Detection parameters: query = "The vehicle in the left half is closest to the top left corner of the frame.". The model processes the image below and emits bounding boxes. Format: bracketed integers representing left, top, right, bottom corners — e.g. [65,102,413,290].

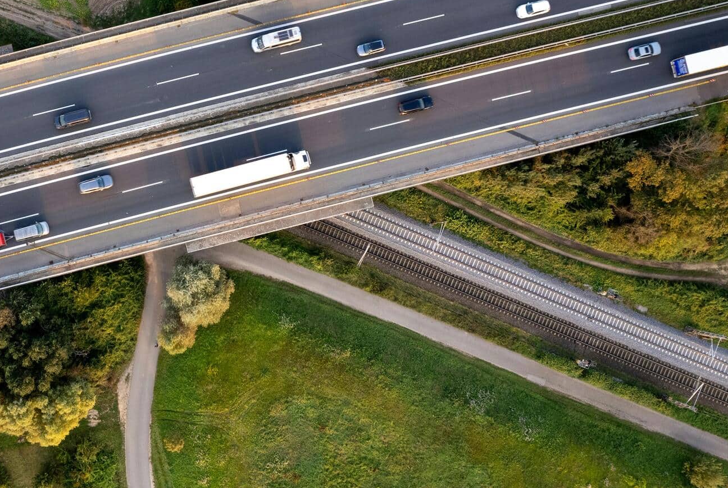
[55,109,92,129]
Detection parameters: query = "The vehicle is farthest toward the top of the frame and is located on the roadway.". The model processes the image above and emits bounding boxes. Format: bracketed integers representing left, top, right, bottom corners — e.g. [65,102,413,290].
[514,1,549,20]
